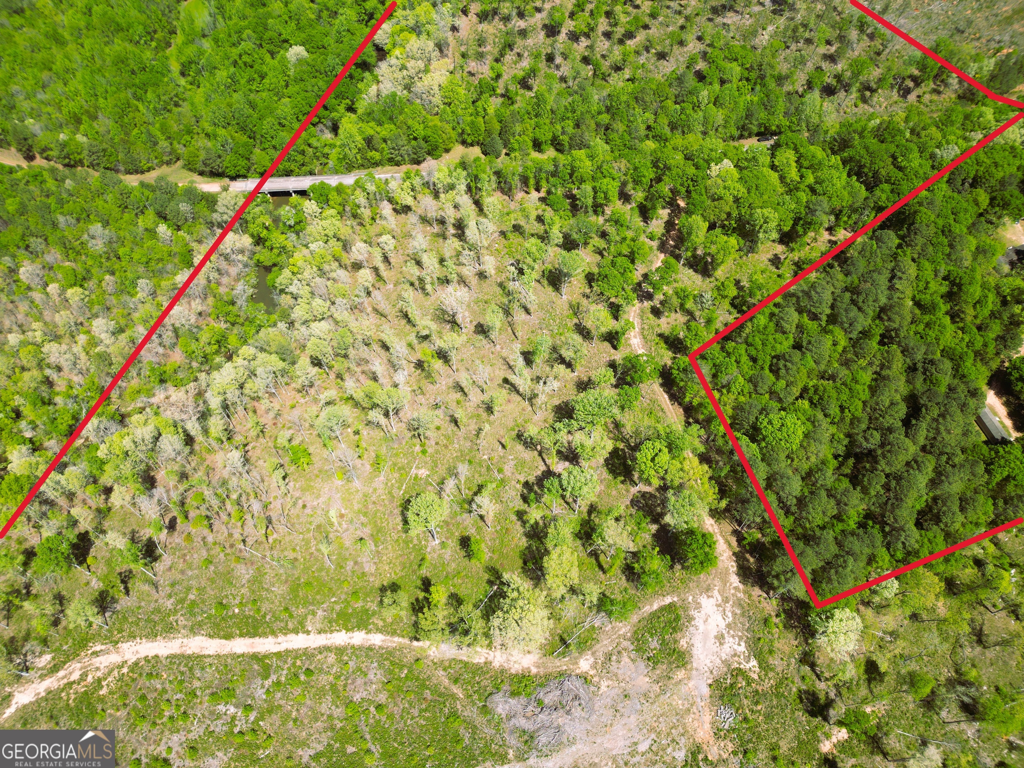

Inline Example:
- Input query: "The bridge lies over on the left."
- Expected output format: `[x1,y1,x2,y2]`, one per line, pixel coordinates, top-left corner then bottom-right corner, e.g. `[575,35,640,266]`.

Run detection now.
[229,170,352,200]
